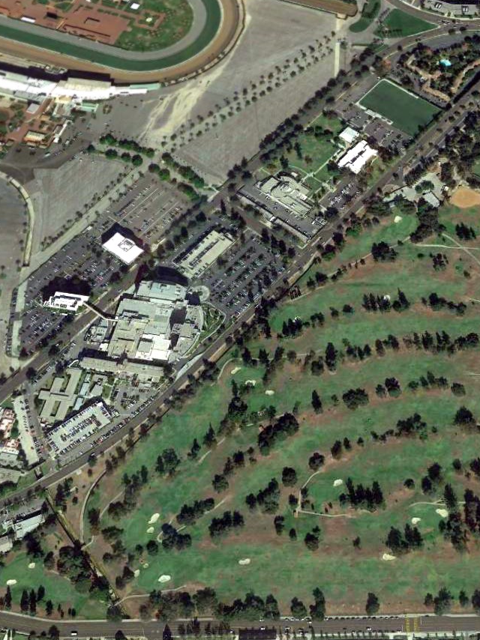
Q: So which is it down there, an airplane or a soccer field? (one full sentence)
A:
There is a soccer field in the scene.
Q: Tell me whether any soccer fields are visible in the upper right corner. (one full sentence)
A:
Yes, a soccer field is visible in the upper right corner.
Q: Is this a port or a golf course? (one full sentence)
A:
It's a golf course.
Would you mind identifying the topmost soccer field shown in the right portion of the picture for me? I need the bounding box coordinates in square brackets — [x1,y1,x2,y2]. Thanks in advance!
[358,78,444,137]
